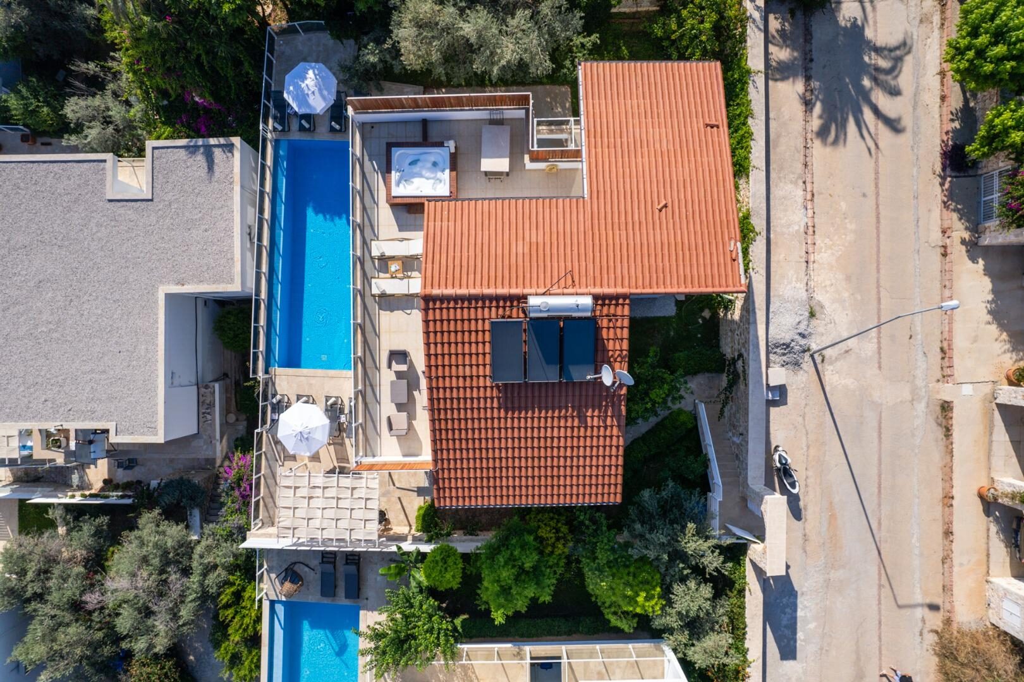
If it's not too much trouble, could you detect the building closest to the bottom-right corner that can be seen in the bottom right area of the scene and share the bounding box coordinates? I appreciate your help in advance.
[990,578,1024,642]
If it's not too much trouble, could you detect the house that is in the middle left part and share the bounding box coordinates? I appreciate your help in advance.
[0,137,269,442]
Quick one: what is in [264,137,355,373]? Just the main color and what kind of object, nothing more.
blue swimming pool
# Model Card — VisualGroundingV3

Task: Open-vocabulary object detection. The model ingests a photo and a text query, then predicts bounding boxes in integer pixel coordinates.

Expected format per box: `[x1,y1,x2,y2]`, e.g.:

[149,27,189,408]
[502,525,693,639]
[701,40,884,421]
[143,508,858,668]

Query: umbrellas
[286,64,339,117]
[278,401,333,456]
